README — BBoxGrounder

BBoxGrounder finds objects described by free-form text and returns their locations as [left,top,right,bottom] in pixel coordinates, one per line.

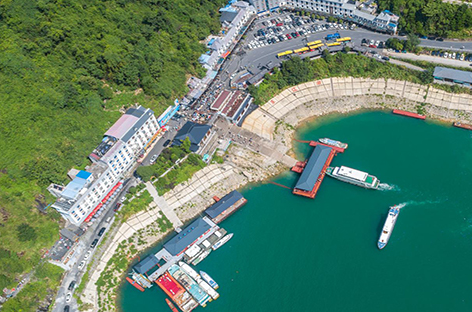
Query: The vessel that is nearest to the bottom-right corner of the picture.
[380,204,401,249]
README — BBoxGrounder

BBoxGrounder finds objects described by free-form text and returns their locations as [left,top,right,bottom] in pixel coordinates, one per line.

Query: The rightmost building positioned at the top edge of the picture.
[379,11,401,34]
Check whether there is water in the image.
Yes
